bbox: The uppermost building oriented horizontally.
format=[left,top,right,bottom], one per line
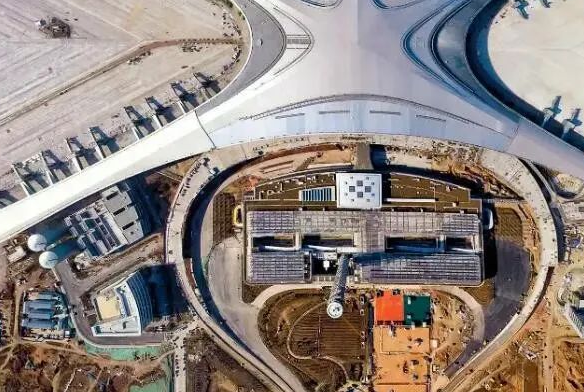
[194,0,520,152]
